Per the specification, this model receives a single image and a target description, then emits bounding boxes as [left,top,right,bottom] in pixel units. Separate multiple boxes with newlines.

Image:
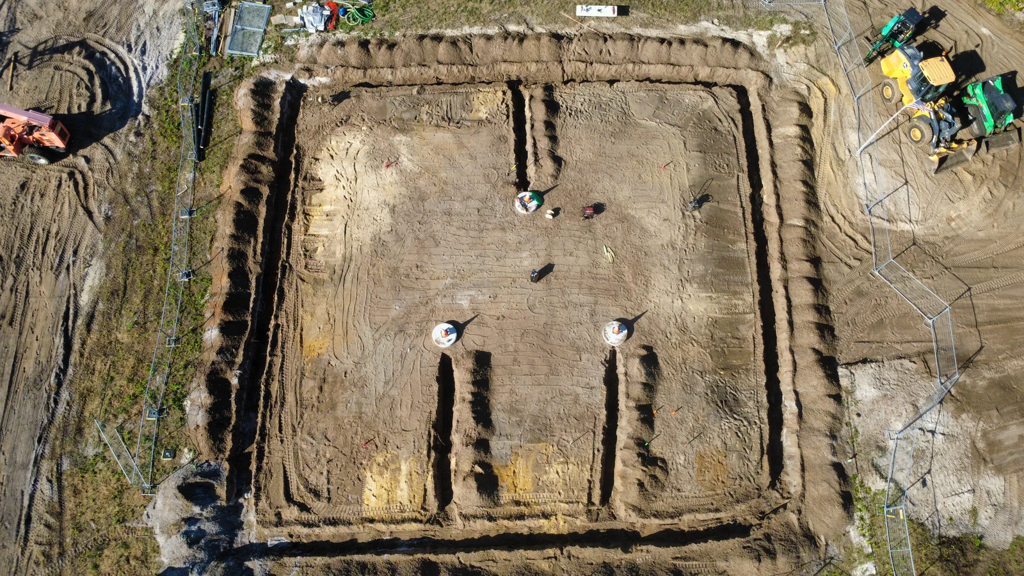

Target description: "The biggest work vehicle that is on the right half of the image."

[872,45,972,177]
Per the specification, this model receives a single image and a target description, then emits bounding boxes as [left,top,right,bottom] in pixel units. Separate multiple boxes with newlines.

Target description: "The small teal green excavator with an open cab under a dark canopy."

[861,6,929,62]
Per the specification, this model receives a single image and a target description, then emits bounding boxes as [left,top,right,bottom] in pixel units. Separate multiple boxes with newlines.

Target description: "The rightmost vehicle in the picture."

[960,76,1022,155]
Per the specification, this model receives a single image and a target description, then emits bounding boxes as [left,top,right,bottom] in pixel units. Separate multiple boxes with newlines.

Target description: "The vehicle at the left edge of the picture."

[0,104,66,164]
